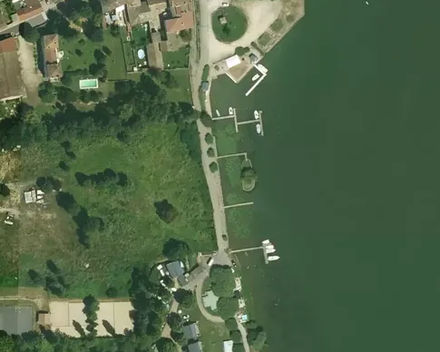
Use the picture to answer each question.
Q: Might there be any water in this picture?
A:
Yes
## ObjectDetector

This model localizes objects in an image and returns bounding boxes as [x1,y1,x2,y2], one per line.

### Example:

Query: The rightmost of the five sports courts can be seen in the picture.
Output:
[114,302,133,338]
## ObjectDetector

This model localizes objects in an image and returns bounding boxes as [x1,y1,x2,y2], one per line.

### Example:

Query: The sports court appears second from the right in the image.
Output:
[89,303,114,337]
